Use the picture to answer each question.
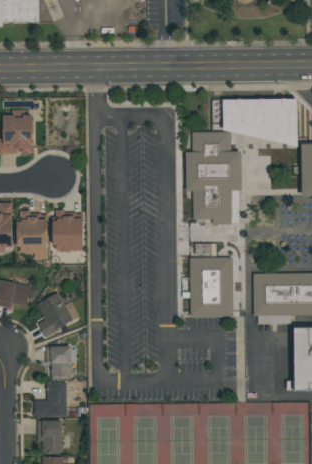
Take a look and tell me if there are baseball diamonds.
No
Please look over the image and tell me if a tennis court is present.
Yes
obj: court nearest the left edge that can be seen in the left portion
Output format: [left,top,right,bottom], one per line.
[90,404,126,464]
